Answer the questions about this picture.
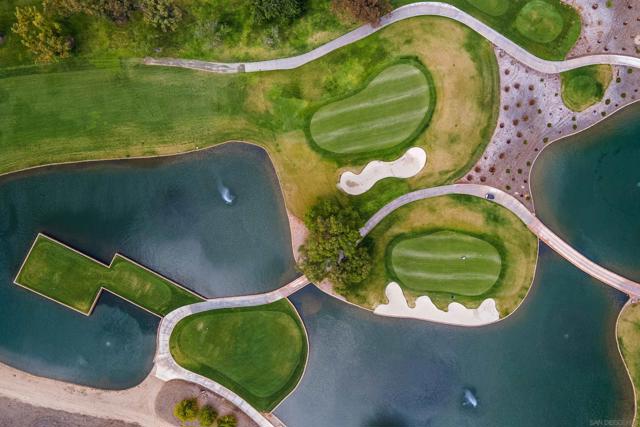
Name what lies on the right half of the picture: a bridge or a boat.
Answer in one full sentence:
There is a bridge on the right half of the picture.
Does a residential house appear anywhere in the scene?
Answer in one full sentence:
No, no residential house is visible in the scene.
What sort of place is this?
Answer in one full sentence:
This looks like a golf course.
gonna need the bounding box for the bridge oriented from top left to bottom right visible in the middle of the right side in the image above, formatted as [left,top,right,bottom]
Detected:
[533,214,638,298]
